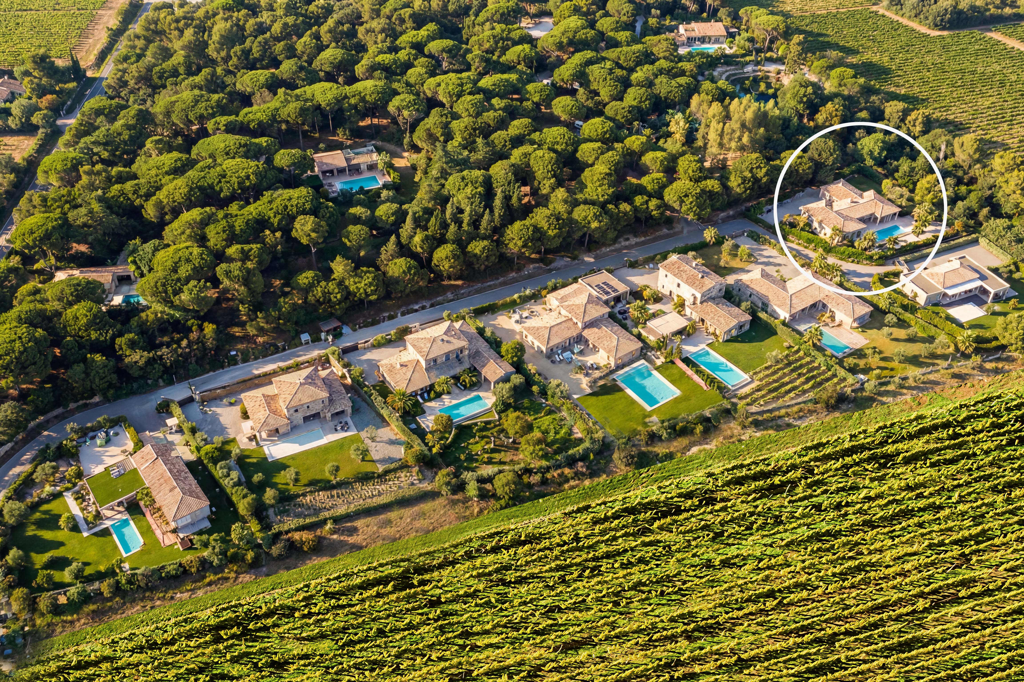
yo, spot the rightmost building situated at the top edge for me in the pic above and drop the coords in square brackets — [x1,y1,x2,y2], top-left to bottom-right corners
[673,18,739,46]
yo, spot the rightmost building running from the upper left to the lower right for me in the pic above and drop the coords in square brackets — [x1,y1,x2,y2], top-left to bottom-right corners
[659,255,752,340]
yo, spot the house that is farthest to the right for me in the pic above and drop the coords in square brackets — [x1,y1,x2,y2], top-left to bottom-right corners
[897,251,1016,305]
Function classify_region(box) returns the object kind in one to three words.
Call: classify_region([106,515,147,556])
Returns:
swimming pool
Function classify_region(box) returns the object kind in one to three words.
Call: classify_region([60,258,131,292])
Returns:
house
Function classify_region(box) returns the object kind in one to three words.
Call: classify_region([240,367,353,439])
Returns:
house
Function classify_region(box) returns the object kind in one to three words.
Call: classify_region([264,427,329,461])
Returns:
swimming pool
